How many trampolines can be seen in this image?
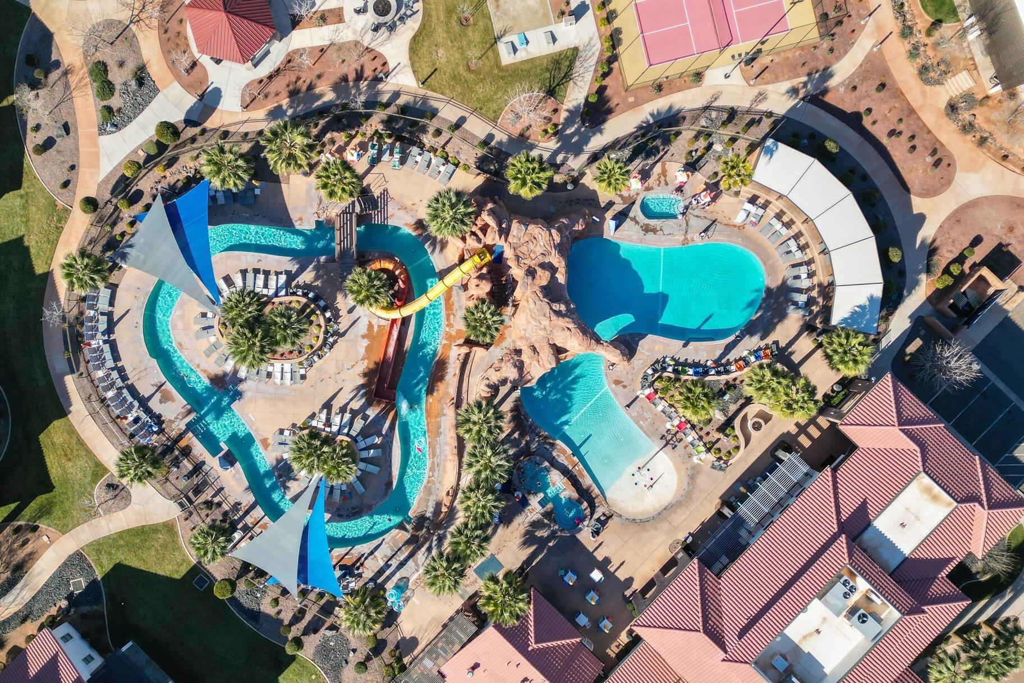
0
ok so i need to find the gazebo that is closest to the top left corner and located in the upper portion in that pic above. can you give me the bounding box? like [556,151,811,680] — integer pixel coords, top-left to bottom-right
[184,0,280,69]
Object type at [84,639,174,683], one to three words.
building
